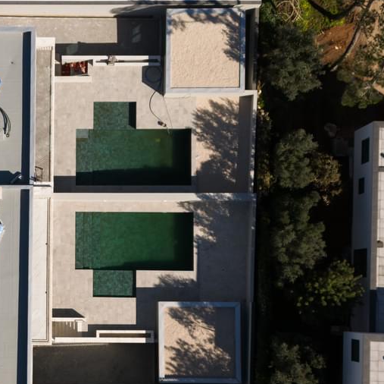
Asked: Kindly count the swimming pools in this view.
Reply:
2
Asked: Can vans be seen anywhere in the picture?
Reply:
No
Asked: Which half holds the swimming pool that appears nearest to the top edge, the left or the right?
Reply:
left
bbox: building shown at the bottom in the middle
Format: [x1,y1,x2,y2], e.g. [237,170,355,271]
[154,302,242,383]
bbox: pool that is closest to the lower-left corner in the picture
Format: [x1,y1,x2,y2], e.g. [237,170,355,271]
[76,212,194,297]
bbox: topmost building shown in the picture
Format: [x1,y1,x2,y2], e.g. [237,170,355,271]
[161,8,254,97]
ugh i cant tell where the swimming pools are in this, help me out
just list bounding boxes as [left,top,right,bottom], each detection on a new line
[76,212,194,297]
[76,102,192,185]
